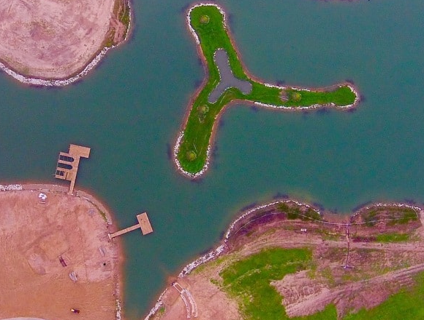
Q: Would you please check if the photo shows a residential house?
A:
No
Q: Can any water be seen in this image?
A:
Yes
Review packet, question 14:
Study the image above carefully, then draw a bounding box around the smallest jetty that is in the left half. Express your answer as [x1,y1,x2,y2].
[108,213,150,239]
